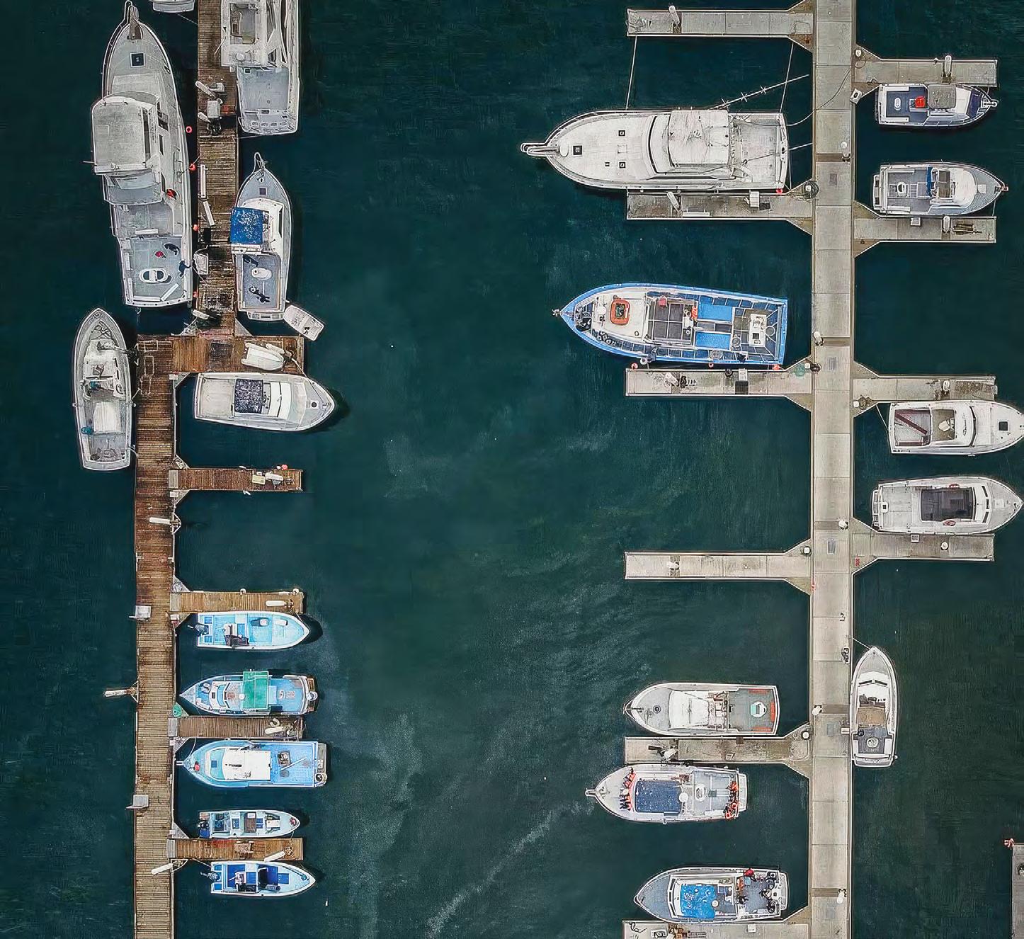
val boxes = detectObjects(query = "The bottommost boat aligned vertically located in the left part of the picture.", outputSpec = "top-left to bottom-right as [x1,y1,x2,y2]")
[71,307,136,472]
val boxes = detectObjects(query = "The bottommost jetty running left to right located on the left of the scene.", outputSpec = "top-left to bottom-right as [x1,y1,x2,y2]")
[169,823,305,875]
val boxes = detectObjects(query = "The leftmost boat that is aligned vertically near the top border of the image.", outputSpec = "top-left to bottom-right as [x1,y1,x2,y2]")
[83,1,197,312]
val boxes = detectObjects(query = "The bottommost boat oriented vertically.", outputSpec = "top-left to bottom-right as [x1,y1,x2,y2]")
[849,645,898,767]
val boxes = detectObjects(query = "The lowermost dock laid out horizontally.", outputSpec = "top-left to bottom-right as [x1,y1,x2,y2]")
[622,905,809,939]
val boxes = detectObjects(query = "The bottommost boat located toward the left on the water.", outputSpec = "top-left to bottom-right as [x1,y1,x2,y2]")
[196,860,317,897]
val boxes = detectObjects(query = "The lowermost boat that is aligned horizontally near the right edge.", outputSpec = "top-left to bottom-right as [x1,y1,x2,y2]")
[871,476,1023,535]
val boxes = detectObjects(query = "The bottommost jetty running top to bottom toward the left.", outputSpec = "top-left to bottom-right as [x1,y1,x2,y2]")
[135,372,177,939]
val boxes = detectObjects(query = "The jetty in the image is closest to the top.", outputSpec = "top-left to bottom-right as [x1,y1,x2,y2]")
[627,0,813,54]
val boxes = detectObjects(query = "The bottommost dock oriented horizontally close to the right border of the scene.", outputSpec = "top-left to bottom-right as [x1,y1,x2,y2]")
[853,517,994,576]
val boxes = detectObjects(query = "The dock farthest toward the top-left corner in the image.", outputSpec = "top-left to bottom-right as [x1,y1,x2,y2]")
[197,0,241,336]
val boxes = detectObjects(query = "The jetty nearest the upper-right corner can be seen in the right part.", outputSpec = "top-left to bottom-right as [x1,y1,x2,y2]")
[855,43,997,105]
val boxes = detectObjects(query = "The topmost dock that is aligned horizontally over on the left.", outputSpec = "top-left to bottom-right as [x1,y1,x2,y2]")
[169,455,305,506]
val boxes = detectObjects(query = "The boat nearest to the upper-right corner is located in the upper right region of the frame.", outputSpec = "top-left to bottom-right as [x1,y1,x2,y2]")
[875,83,999,127]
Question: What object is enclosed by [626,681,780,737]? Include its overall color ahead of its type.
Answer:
white boat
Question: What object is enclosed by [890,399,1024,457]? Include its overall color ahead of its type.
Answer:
white boat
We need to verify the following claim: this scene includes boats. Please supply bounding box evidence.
[151,0,198,13]
[284,305,326,341]
[176,739,329,788]
[552,282,789,364]
[874,159,1009,217]
[71,307,136,472]
[586,762,747,825]
[875,83,999,127]
[194,373,337,431]
[230,153,293,321]
[196,860,317,897]
[849,645,898,767]
[190,610,311,650]
[214,0,305,140]
[83,1,197,312]
[890,399,1024,457]
[871,476,1023,535]
[626,681,780,737]
[521,74,809,192]
[179,669,326,716]
[634,866,787,924]
[199,809,301,839]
